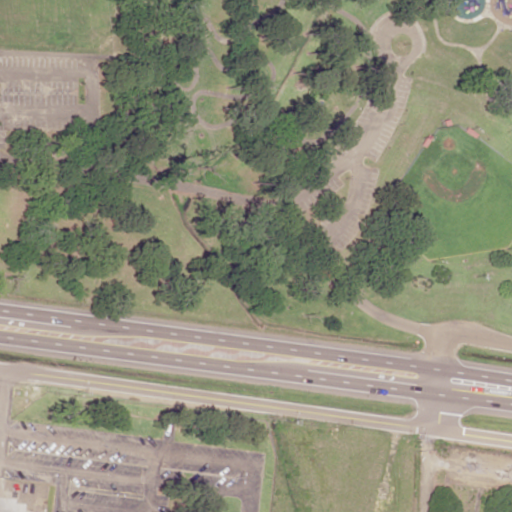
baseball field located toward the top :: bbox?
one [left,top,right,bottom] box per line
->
[398,126,512,260]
